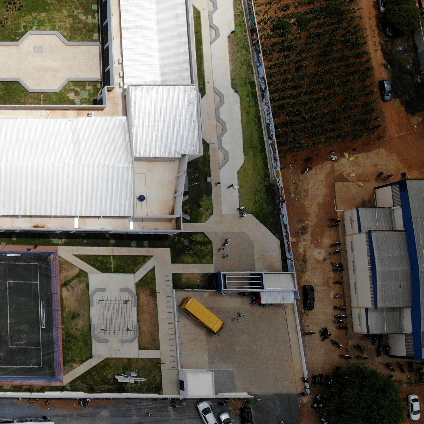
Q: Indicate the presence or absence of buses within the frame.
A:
Yes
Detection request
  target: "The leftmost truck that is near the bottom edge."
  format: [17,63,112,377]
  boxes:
[195,398,218,424]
